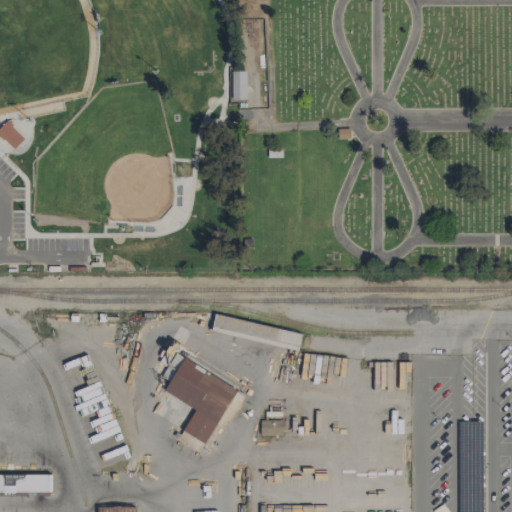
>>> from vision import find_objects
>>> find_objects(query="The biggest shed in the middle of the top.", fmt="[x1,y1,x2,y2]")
[233,71,248,100]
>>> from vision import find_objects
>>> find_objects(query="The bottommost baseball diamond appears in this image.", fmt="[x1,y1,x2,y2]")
[36,80,174,224]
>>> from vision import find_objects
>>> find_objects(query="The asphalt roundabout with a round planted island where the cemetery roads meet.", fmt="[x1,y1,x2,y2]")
[353,96,403,144]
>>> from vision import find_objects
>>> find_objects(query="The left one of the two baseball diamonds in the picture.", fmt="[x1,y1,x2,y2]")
[0,0,100,114]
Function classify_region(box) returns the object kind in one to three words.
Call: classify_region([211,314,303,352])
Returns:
shed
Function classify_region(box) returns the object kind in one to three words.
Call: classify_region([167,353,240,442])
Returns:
building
